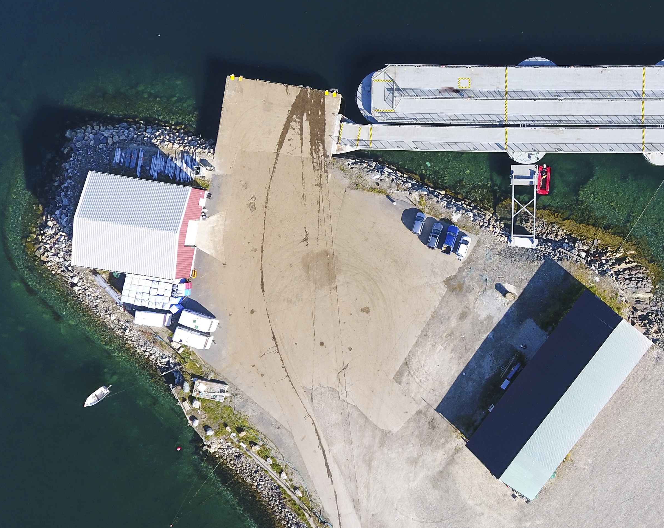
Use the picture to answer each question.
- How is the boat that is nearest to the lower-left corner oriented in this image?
diagonally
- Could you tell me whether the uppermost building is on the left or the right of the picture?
left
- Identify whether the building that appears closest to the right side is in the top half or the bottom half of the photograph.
bottom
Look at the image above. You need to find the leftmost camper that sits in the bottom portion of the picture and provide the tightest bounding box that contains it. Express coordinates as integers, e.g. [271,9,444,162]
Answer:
[135,308,180,326]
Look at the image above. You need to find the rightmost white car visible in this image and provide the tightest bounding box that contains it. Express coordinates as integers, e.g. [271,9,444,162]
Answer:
[456,235,470,262]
